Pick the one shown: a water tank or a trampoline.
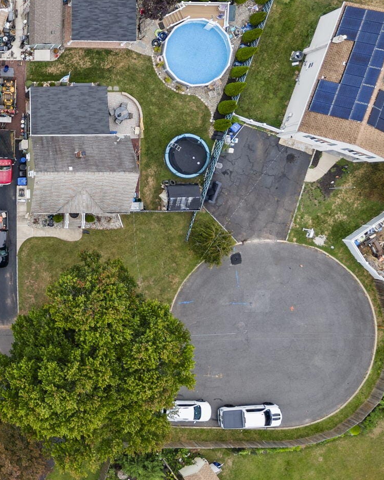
trampoline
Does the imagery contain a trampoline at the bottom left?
No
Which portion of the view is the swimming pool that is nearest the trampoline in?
top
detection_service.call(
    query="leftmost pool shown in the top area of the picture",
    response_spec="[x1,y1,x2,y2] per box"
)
[160,18,232,89]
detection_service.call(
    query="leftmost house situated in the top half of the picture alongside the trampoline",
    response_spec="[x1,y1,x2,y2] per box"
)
[27,85,139,216]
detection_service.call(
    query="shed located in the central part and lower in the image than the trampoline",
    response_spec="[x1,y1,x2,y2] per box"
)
[162,183,202,210]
